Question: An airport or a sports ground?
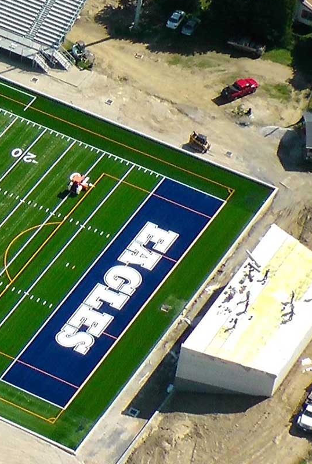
sports ground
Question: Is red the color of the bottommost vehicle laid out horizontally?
Yes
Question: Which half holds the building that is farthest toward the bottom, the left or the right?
right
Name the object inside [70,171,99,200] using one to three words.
work vehicle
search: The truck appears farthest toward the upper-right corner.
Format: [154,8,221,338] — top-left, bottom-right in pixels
[225,33,272,59]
